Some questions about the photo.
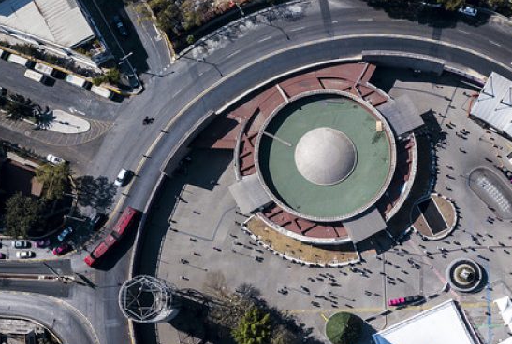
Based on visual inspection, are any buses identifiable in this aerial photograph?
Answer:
Yes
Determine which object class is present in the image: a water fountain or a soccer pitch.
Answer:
water fountain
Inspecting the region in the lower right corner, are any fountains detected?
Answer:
Yes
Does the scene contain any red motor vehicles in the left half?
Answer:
Yes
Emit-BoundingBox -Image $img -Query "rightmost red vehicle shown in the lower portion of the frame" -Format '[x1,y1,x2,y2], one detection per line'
[83,208,136,264]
